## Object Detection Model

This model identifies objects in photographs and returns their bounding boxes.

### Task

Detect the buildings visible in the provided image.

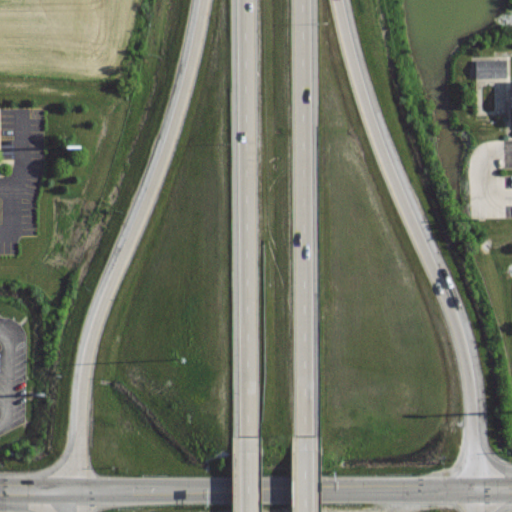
[476,60,508,80]
[494,83,512,114]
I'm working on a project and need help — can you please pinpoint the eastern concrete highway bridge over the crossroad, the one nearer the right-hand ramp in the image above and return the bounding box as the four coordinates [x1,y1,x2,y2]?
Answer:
[292,428,324,512]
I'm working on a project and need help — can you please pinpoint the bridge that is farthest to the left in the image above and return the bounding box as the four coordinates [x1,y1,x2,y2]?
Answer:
[232,436,262,512]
